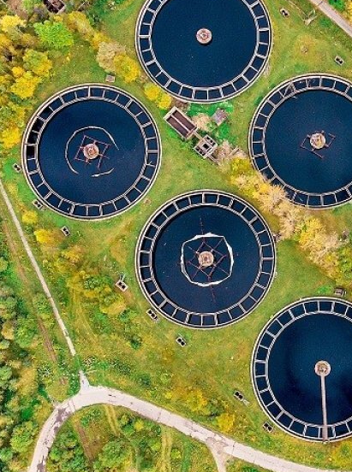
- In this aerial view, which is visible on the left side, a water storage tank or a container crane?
water storage tank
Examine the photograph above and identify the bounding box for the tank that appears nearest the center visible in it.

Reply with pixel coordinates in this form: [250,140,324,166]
[134,189,277,331]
